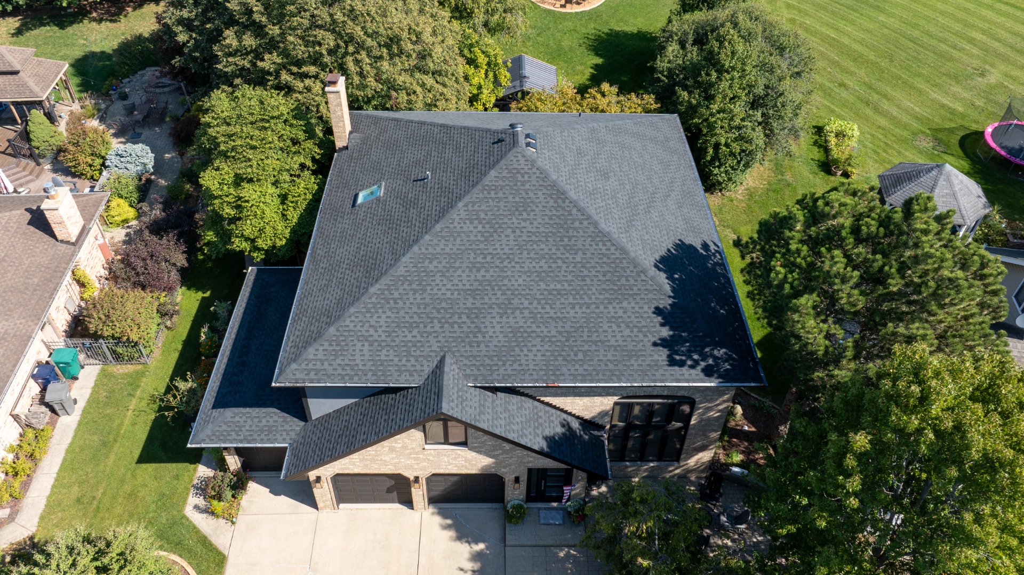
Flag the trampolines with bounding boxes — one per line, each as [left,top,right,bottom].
[978,91,1024,184]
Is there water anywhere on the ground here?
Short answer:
No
